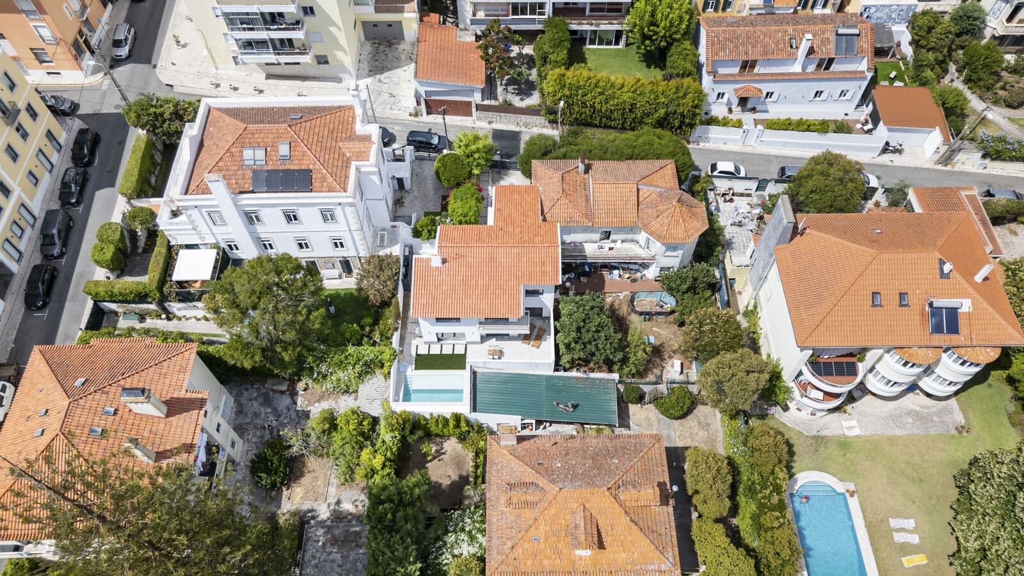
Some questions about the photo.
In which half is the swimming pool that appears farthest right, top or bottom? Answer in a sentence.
The swimming pool that appears farthest right sits in the bottom half of the picture.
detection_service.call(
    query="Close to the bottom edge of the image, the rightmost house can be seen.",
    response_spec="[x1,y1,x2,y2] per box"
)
[484,424,682,576]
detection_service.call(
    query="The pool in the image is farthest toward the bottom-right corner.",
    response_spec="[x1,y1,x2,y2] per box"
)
[789,469,883,576]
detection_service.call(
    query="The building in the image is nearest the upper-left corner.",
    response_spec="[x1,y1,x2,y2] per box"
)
[0,0,112,79]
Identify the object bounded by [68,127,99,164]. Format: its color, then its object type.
black car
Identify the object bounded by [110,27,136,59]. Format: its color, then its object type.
gray car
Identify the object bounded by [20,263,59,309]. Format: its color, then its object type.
black car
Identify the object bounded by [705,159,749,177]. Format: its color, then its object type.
white car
